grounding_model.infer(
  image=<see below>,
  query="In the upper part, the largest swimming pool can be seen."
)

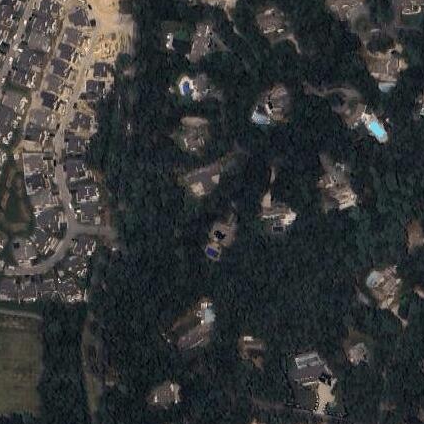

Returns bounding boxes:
[363,112,388,143]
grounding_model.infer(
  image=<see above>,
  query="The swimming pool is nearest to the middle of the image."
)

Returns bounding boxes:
[203,244,221,260]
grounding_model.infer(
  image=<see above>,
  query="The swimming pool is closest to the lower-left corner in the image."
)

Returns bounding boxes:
[203,308,216,324]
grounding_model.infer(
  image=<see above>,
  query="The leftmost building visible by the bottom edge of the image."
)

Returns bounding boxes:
[149,384,179,405]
